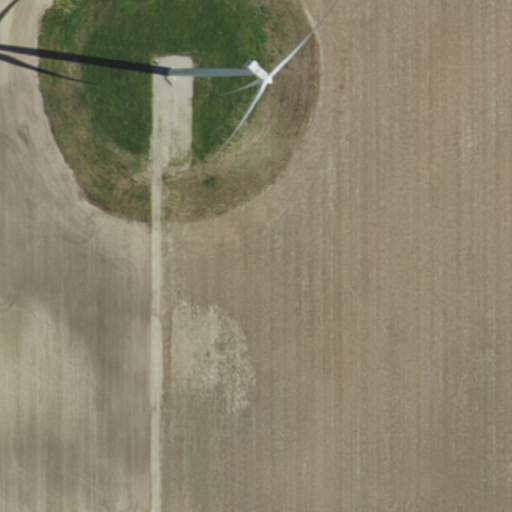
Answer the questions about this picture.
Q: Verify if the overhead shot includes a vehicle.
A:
No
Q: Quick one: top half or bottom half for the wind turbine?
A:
top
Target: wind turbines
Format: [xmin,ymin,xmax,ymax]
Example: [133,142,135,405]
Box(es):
[167,0,339,158]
